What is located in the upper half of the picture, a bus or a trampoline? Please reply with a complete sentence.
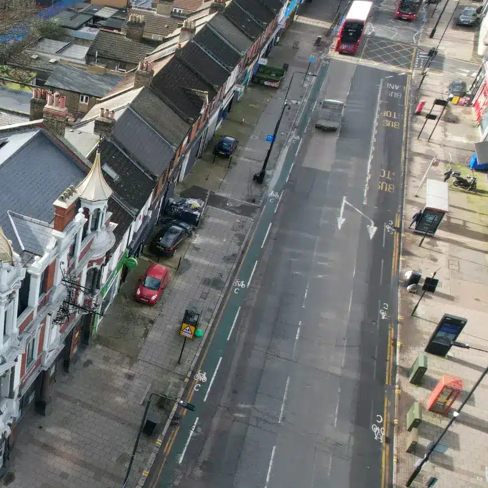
What appears in the upper half of the picture is a bus.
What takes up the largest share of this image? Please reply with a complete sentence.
The bulk of the photo consists of paved ground.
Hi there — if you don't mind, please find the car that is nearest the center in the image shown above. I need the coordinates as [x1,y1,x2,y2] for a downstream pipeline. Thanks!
[151,220,194,257]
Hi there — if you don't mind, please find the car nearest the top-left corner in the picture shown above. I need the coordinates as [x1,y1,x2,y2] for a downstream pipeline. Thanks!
[213,136,241,159]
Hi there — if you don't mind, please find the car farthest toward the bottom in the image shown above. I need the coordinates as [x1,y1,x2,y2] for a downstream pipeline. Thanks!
[136,260,171,302]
